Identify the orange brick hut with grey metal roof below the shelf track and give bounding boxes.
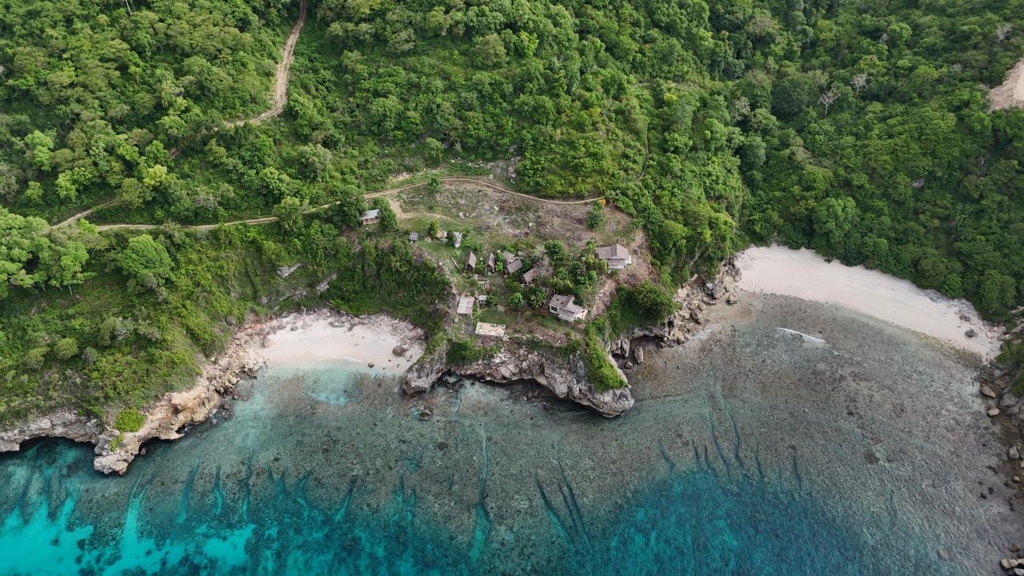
[358,208,381,230]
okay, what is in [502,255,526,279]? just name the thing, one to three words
shed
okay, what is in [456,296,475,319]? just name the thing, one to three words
shed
